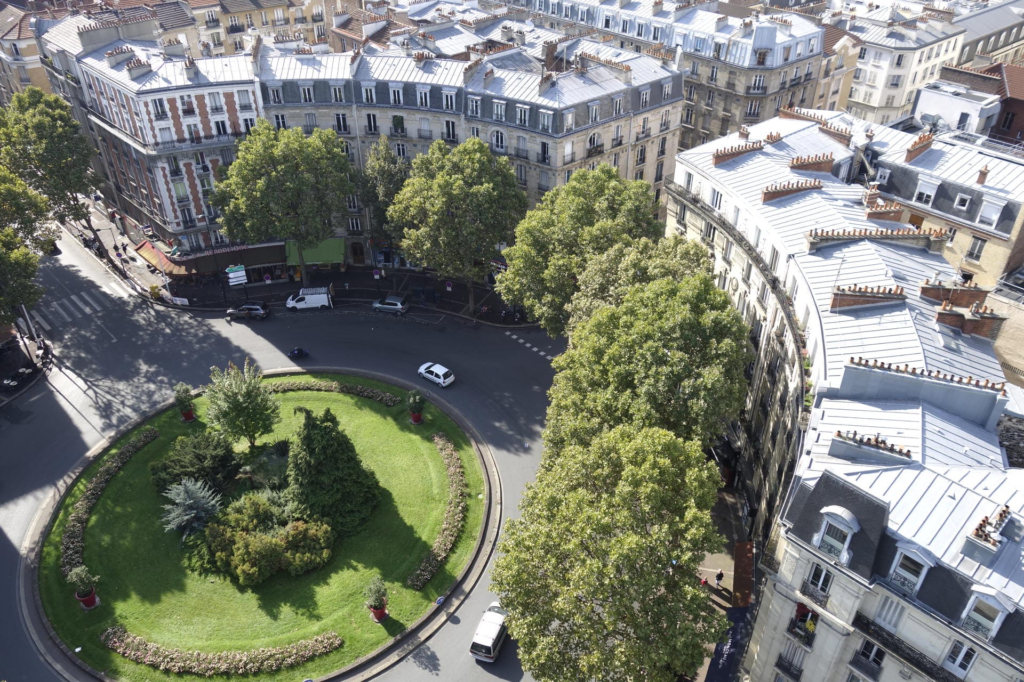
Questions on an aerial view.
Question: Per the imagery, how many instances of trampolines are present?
0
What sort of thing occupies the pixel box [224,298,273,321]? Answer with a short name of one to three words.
car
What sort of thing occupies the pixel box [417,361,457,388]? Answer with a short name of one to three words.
car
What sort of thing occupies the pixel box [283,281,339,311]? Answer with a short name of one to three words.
vehicle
